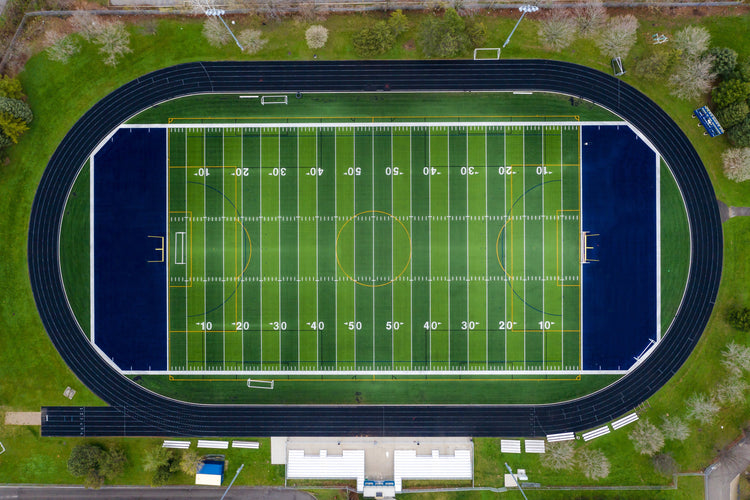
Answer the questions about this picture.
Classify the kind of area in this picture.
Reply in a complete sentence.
The area seen from above is a sports ground.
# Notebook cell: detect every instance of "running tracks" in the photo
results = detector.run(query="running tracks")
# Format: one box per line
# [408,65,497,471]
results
[29,59,724,436]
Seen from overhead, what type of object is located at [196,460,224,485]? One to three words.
shed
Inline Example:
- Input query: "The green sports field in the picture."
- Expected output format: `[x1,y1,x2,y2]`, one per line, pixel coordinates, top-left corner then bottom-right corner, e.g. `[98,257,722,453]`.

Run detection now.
[61,91,691,405]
